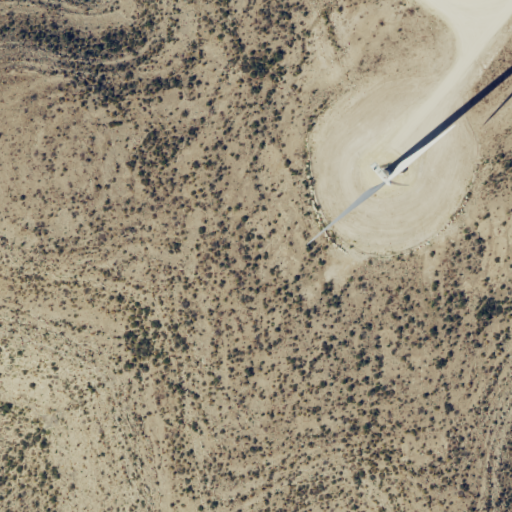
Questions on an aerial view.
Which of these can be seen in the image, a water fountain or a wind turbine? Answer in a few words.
wind turbine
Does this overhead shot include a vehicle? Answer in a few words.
No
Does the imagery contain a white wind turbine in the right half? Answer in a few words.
Yes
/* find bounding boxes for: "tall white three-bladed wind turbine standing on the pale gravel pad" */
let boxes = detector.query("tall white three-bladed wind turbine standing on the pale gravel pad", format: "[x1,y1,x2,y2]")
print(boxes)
[308,126,456,245]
